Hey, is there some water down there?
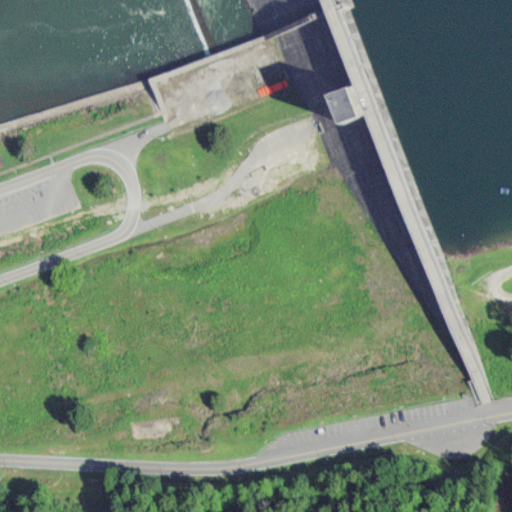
Yes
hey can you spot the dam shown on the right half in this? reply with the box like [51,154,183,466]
[238,0,496,402]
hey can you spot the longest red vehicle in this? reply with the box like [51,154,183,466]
[256,81,288,97]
